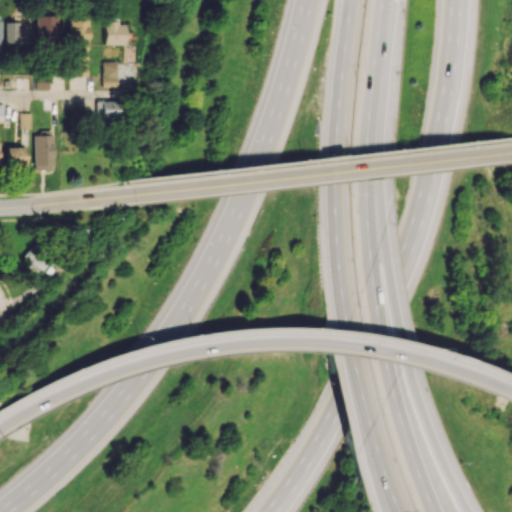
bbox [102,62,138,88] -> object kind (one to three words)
house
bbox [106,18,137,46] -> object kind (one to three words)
house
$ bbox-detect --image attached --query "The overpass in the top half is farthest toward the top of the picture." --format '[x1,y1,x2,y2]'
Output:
[145,138,512,204]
